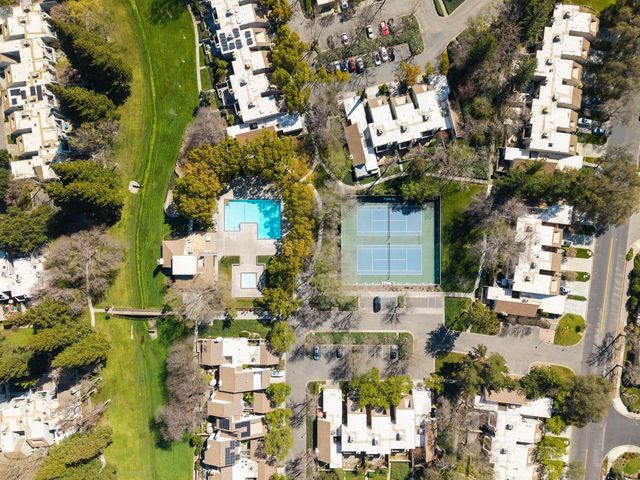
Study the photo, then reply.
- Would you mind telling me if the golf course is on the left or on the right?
left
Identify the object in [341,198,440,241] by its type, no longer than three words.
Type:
tennis court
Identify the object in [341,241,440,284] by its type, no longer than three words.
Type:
tennis court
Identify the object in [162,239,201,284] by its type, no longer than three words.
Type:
building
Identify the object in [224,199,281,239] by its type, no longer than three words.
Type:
swimming pool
